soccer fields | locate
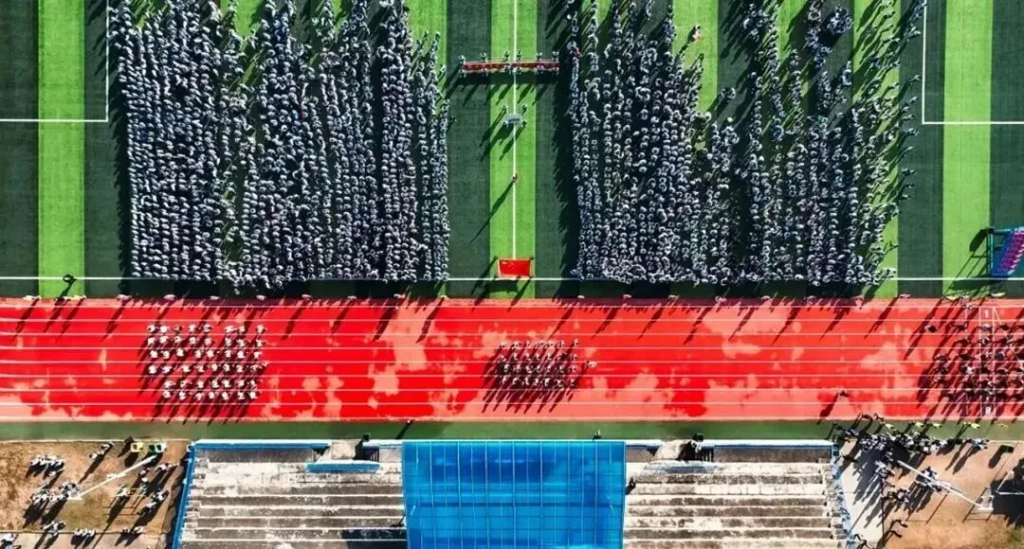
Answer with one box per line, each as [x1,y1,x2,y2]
[0,0,1024,299]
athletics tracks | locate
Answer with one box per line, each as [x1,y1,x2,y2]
[0,299,1024,422]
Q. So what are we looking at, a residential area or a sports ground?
sports ground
